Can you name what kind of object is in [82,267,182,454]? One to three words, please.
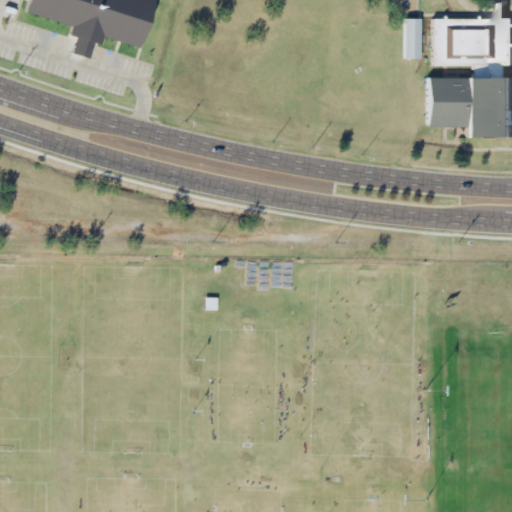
soccer field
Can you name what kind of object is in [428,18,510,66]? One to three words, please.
building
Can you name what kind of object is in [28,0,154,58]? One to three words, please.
building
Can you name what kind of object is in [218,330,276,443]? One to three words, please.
soccer field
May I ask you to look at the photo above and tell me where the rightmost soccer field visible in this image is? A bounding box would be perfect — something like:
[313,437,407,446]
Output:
[449,334,512,512]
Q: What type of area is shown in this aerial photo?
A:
sports ground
